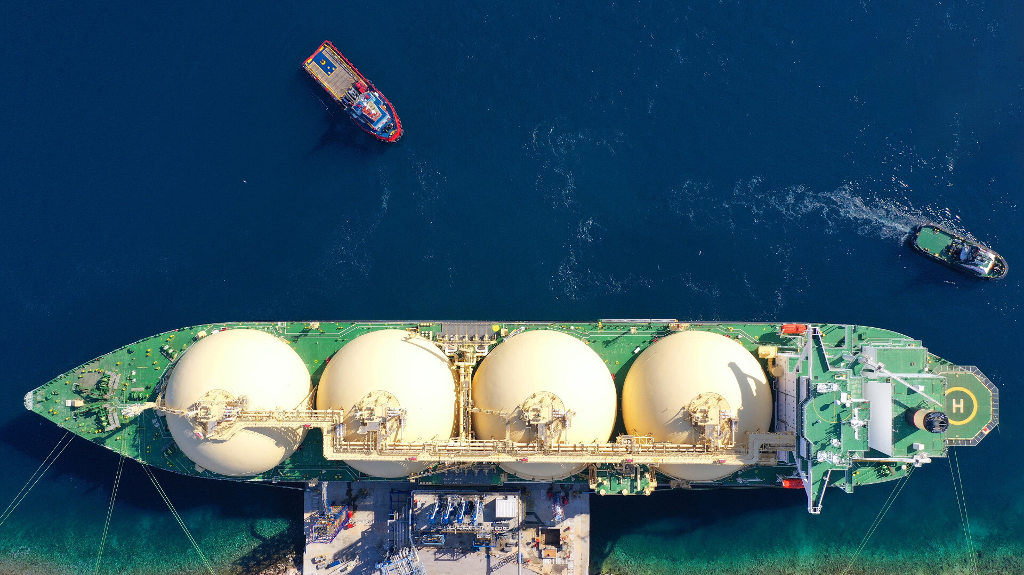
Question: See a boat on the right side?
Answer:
Yes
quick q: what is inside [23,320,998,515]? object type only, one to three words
ship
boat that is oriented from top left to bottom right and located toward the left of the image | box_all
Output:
[299,37,400,139]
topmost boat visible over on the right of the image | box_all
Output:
[911,222,1014,278]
